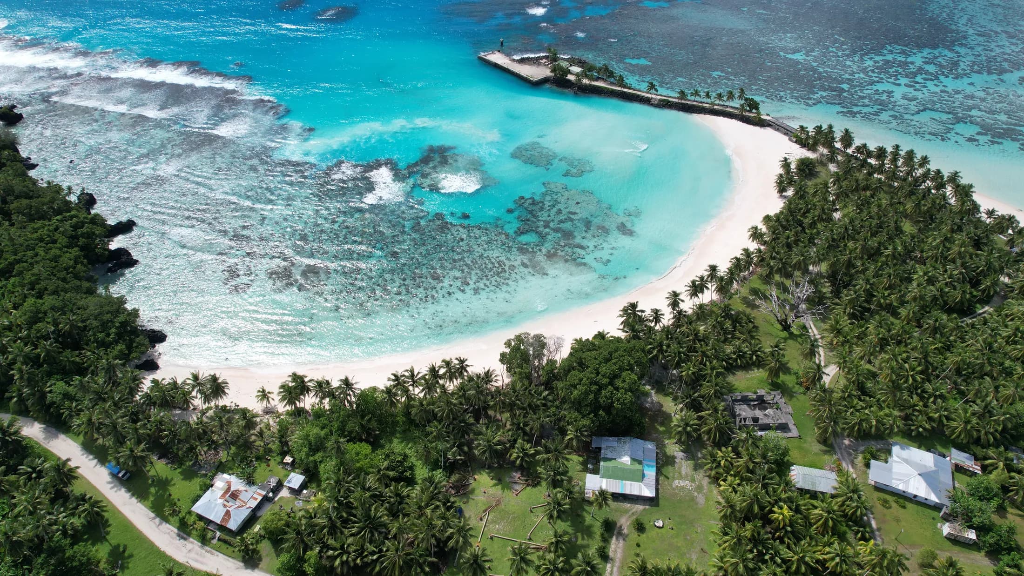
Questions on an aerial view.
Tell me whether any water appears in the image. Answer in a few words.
Yes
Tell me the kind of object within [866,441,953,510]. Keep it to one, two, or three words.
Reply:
house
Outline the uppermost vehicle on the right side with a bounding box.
[926,444,951,459]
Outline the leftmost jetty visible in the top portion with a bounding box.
[479,50,556,84]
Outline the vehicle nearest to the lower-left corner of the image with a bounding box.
[104,459,131,478]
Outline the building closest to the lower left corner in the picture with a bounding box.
[191,473,267,543]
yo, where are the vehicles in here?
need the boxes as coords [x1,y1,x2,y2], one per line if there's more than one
[104,459,131,478]
[926,444,951,459]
